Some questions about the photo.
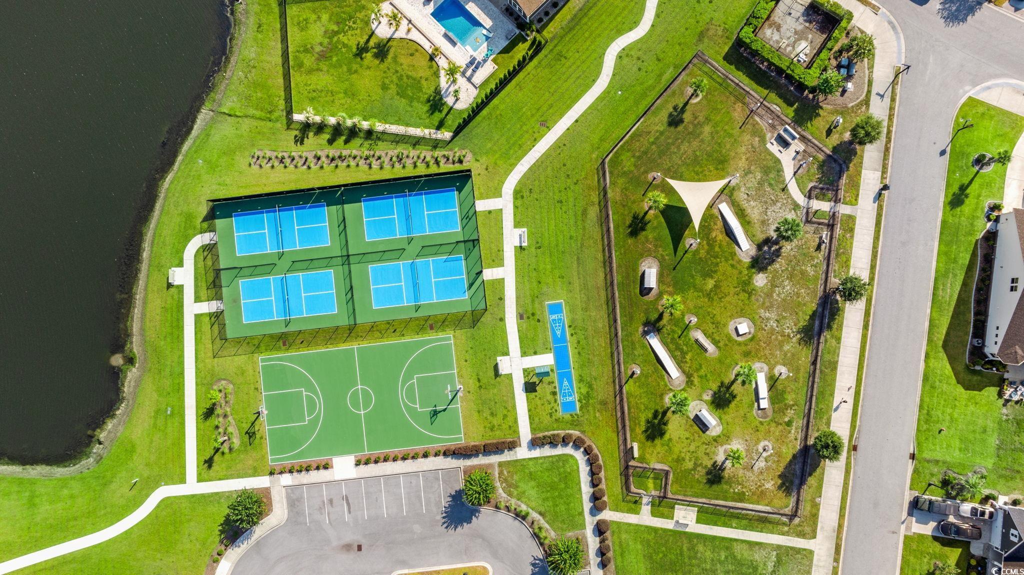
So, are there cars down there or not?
Yes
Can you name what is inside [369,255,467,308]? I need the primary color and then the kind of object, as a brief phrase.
blue sports court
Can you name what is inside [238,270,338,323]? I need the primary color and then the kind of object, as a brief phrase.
blue sports court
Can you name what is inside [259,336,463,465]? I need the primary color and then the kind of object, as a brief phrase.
green basketball court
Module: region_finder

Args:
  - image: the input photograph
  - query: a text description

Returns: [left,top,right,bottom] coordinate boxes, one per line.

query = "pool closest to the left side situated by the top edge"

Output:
[428,0,494,54]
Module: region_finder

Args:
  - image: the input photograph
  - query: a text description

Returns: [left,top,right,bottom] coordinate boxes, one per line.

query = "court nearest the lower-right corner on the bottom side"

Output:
[546,300,578,415]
